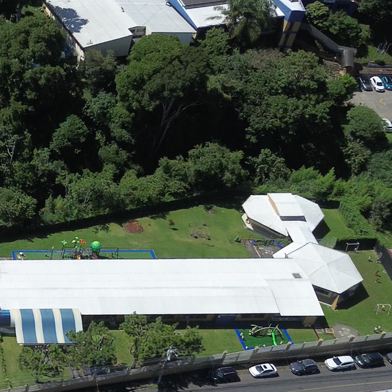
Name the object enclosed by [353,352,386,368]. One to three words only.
car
